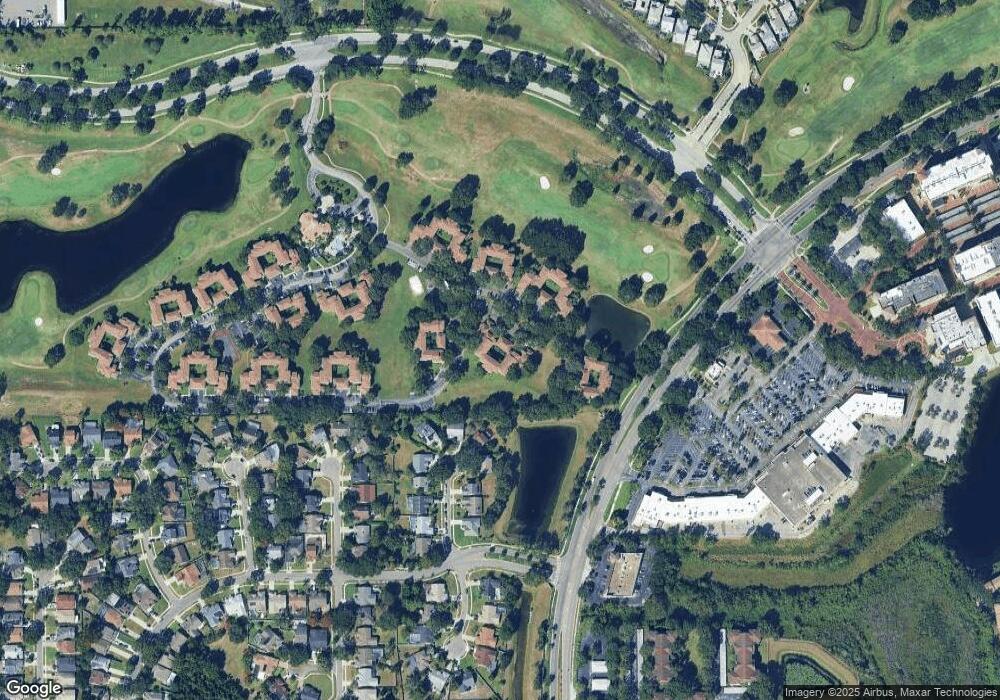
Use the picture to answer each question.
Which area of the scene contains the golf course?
top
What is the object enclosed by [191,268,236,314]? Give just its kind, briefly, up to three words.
building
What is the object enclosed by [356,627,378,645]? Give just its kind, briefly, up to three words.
house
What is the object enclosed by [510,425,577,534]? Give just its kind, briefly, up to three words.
pond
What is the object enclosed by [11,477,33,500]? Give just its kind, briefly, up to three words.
house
